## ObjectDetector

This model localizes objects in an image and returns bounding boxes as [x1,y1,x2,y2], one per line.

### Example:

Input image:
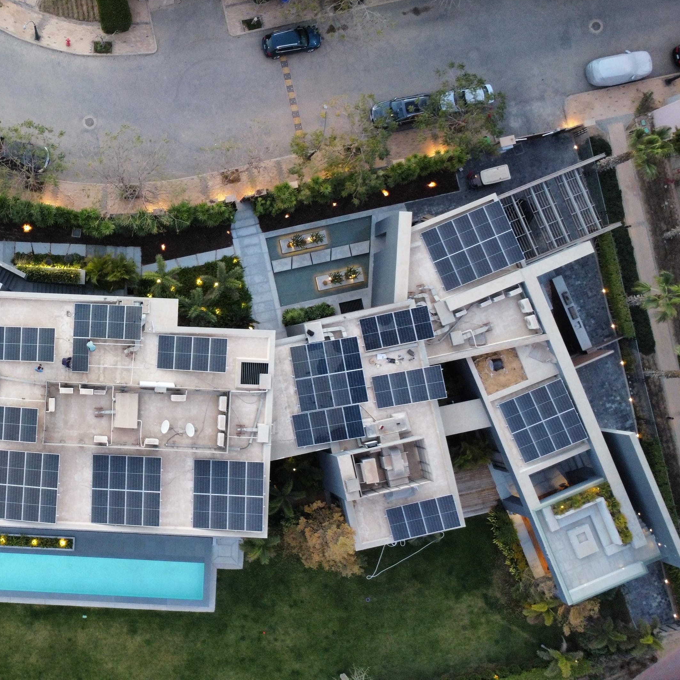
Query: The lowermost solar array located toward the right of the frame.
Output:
[385,494,460,541]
